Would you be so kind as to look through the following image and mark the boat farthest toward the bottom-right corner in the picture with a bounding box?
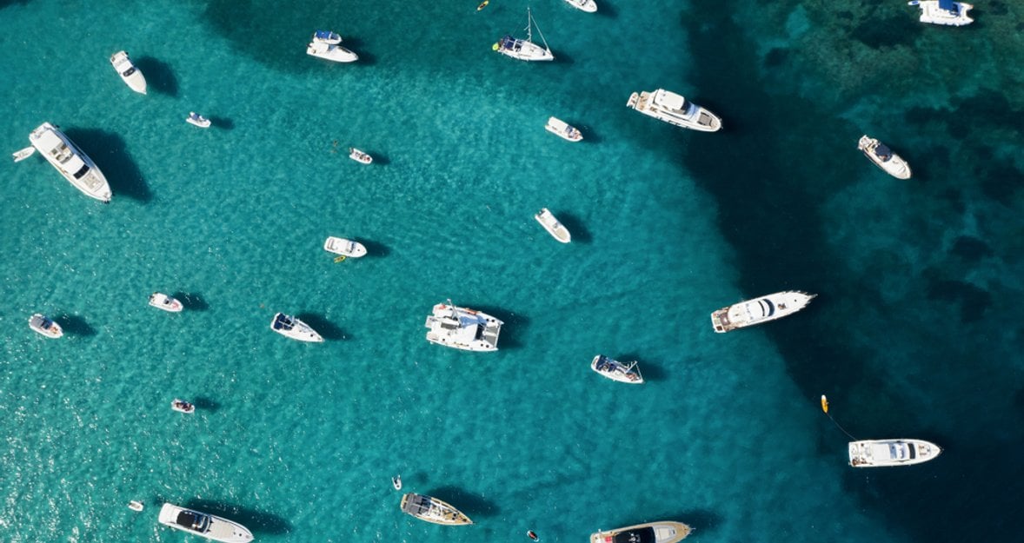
[845,438,945,468]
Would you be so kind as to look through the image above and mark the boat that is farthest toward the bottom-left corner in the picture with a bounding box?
[128,500,144,512]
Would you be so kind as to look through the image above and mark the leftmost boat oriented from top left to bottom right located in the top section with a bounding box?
[31,123,114,200]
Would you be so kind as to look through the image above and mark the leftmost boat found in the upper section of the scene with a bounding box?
[13,146,35,162]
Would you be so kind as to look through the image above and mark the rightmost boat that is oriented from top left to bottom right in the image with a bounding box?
[857,138,912,180]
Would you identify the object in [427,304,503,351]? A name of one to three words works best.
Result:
boat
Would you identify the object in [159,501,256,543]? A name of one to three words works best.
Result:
boat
